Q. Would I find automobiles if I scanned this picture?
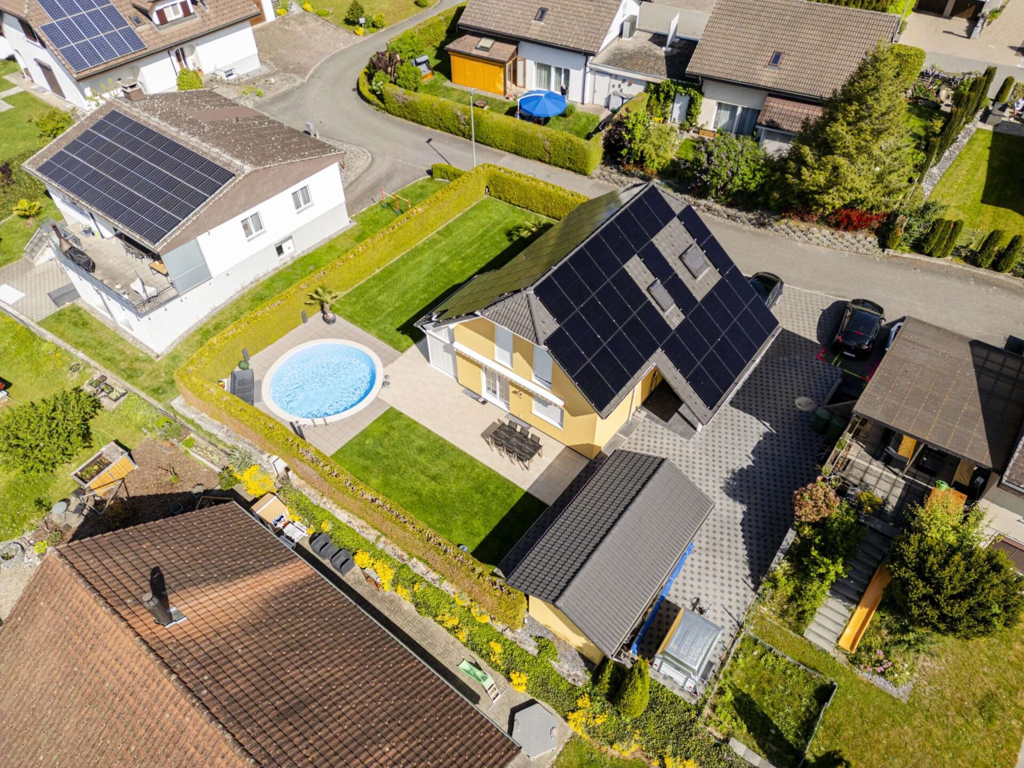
Yes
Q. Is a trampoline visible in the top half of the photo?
No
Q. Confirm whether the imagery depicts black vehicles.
Yes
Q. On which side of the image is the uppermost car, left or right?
right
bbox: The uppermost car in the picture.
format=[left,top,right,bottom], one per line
[750,263,797,314]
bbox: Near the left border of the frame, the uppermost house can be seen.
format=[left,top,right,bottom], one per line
[0,0,281,116]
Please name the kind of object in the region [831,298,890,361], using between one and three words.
car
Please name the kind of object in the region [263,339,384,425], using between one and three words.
swimming pool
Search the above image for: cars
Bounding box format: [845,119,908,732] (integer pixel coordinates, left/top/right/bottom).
[750,263,797,314]
[878,314,907,365]
[831,298,890,361]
